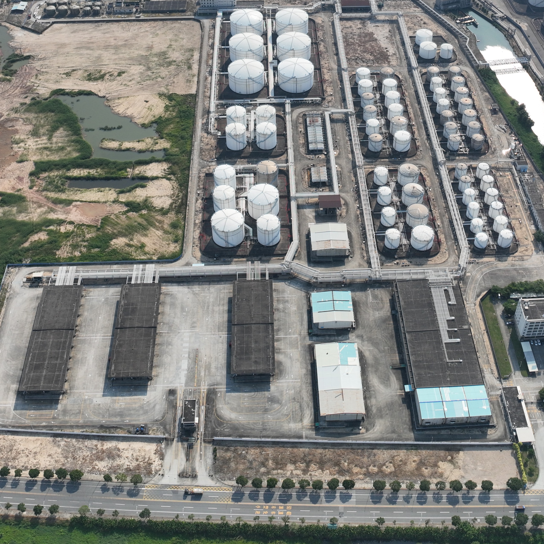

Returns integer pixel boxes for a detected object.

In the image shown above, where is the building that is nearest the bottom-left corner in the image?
[182,399,197,428]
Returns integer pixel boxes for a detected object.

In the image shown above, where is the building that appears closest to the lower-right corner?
[501,386,529,433]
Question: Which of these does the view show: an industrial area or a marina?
industrial area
